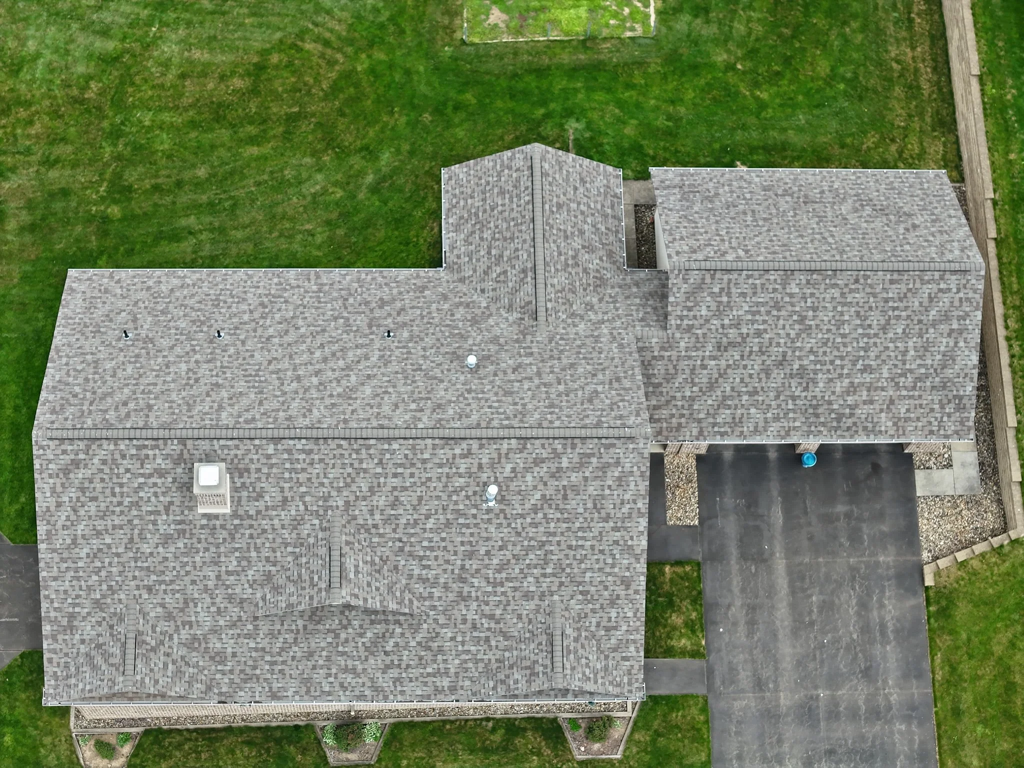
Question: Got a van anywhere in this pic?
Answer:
No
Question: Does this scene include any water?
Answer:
No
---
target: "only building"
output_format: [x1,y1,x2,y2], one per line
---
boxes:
[35,143,983,720]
